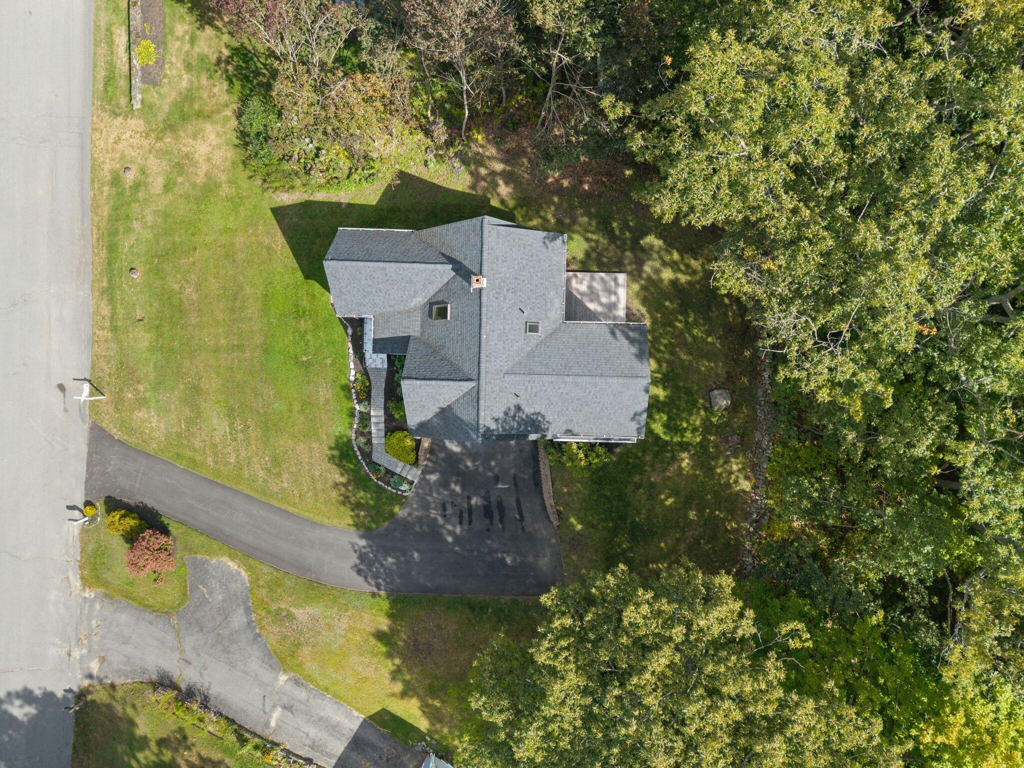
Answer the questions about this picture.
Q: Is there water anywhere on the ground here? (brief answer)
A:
No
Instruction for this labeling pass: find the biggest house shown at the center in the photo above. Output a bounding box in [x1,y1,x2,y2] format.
[323,215,652,445]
